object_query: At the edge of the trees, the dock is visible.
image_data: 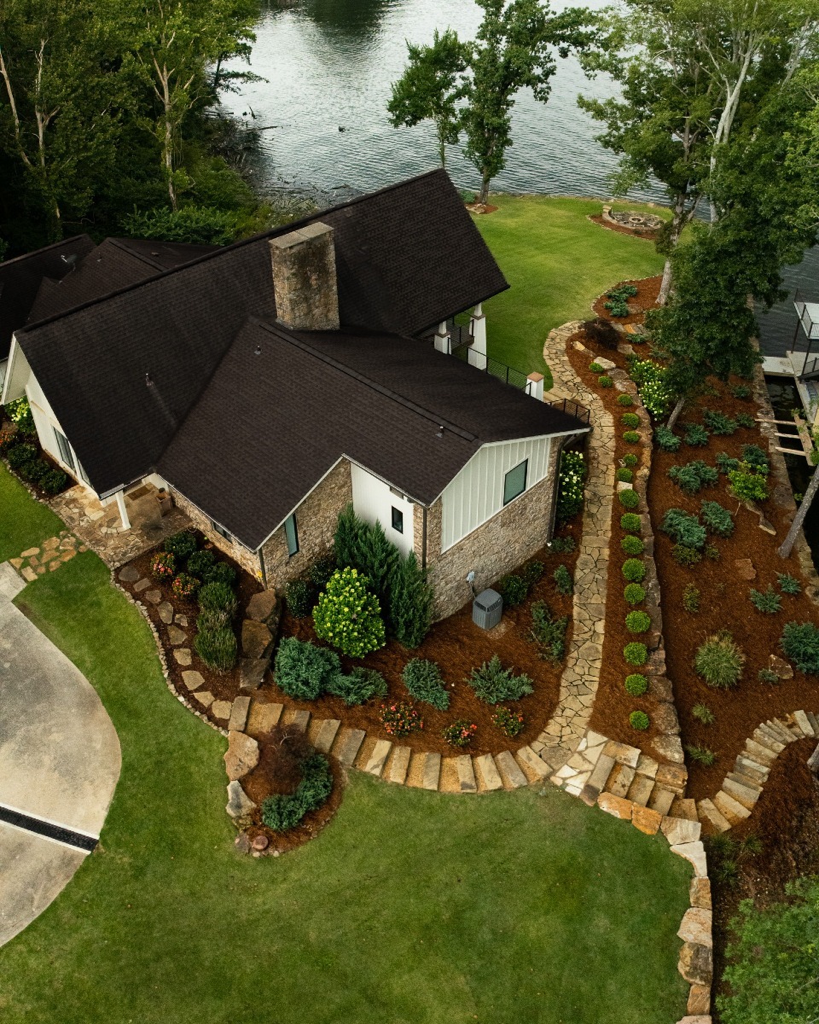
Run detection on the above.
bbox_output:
[764,287,819,453]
